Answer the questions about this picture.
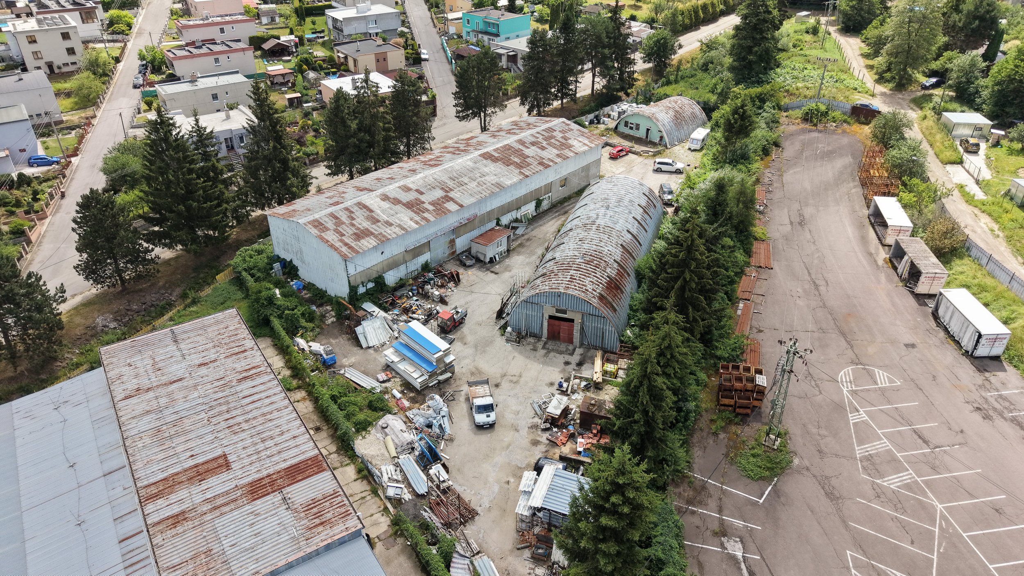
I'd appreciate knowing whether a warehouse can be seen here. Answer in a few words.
Yes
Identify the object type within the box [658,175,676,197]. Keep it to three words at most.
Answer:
car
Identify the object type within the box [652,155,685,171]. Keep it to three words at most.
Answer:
car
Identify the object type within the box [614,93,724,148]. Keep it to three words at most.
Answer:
hangar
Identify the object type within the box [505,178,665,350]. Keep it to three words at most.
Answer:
hangar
